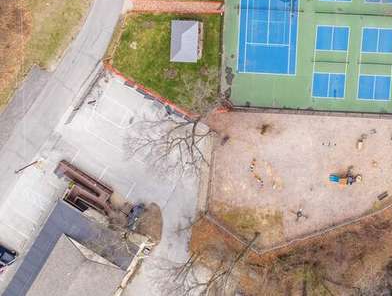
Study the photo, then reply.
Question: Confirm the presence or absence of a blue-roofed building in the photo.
No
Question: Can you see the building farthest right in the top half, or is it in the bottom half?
top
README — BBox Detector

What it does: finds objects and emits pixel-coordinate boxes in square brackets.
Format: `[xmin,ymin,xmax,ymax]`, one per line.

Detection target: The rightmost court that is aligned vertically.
[357,27,392,101]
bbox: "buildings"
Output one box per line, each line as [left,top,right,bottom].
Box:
[5,197,150,296]
[170,20,203,62]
